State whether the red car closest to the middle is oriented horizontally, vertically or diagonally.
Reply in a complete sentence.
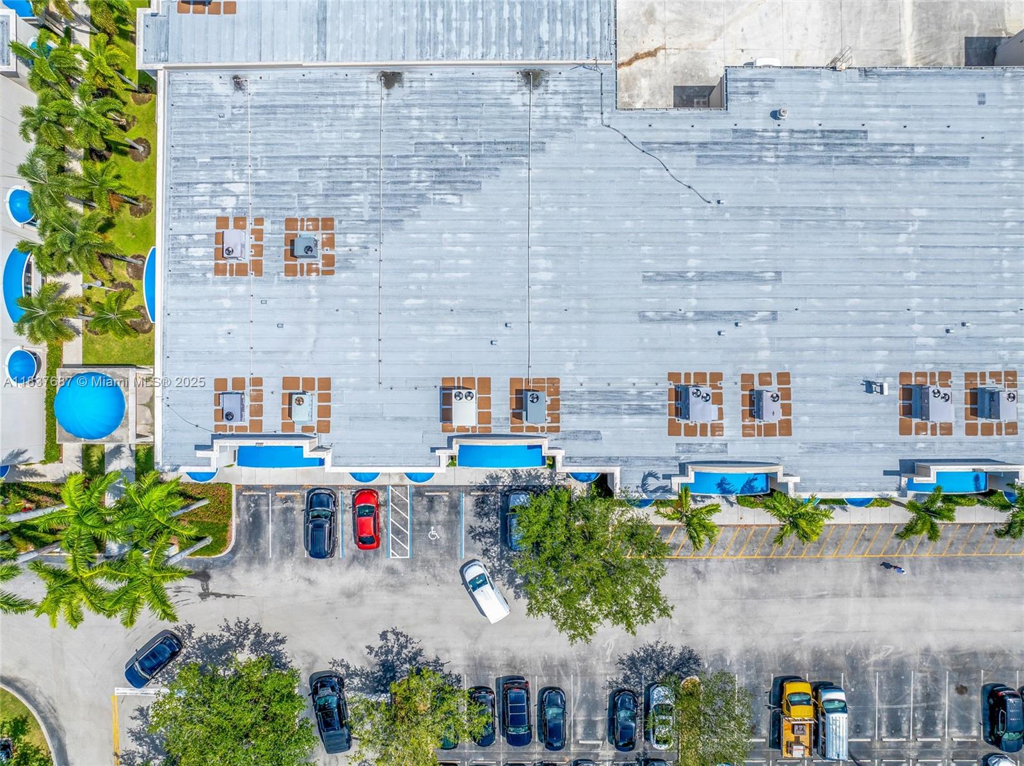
The red car closest to the middle has been laid out vertically relative to the frame.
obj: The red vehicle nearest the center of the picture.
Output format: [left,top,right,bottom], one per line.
[350,489,381,550]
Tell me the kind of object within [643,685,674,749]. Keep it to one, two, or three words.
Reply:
car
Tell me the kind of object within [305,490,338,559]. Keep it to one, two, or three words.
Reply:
car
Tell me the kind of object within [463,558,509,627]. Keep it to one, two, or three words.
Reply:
vehicle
